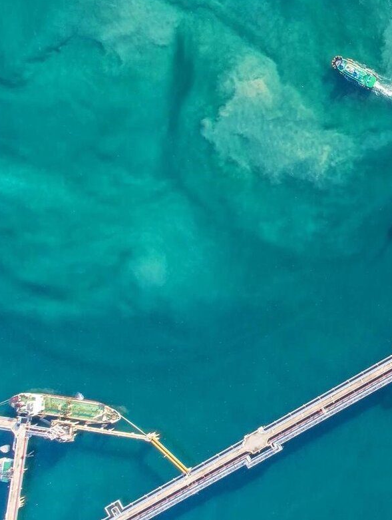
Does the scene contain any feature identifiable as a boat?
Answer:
Yes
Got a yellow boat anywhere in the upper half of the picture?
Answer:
No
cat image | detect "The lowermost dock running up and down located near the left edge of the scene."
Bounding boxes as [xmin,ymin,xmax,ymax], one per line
[5,424,35,520]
